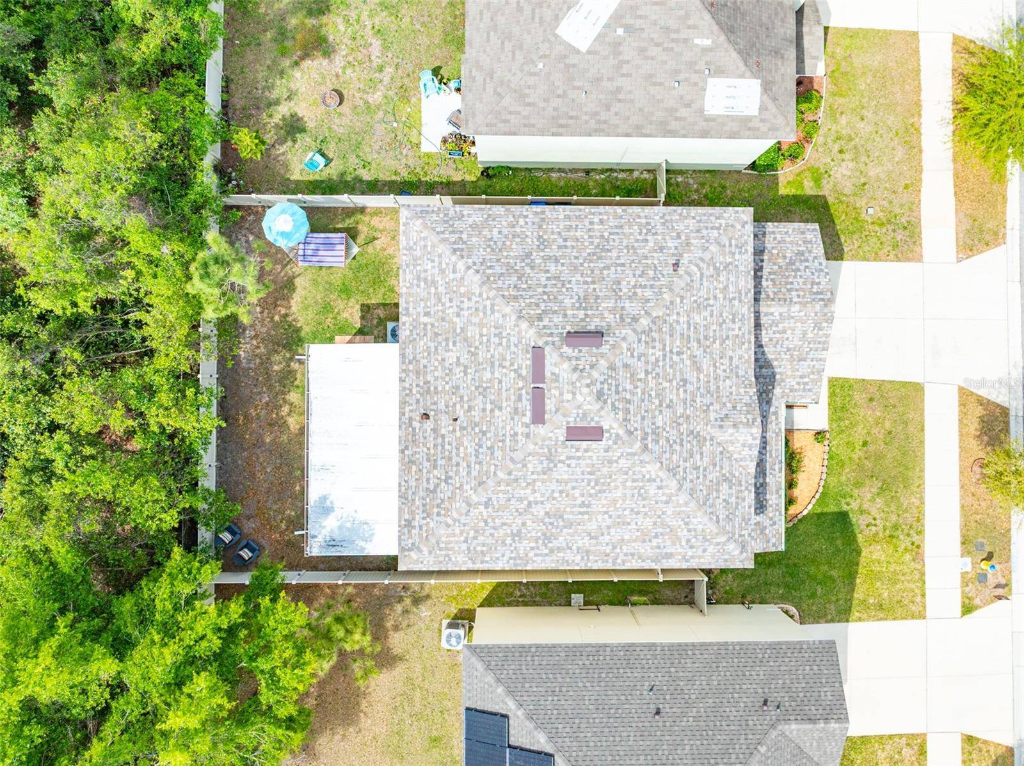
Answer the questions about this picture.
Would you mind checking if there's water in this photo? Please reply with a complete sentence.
No, the scene doesn't show any water.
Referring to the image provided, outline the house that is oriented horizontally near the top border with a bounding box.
[459,0,826,170]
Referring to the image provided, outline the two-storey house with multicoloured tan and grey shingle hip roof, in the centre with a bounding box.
[399,206,840,570]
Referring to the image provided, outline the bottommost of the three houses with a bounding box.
[462,599,853,766]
